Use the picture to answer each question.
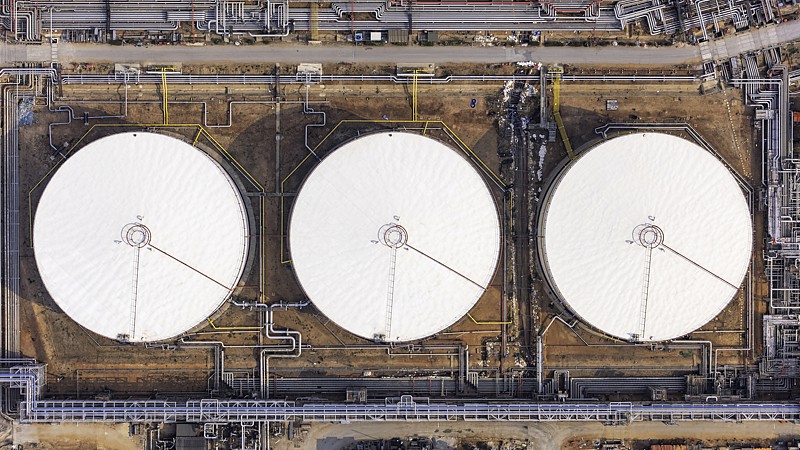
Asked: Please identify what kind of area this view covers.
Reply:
industrial area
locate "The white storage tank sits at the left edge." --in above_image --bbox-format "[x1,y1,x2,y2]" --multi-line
[33,129,253,343]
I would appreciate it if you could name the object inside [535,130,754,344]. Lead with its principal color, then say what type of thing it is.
white storage tank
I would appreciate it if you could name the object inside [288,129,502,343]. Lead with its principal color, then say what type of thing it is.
white storage tank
